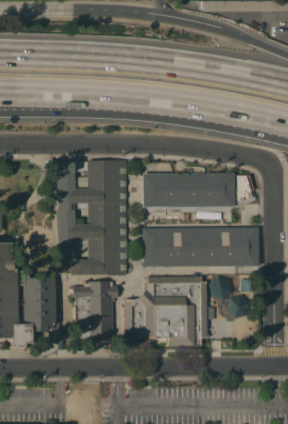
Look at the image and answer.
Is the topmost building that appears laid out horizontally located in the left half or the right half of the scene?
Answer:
right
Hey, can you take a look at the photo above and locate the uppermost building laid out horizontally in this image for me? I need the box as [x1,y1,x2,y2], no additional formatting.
[144,173,238,211]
